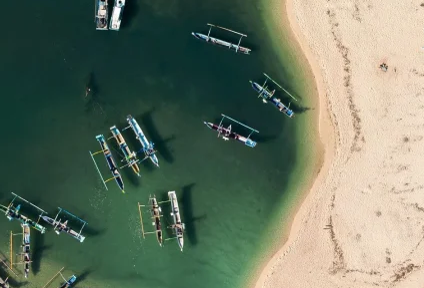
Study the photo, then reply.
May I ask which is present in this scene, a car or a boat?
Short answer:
boat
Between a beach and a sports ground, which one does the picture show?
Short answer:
beach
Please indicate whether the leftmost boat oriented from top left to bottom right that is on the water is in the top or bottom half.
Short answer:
bottom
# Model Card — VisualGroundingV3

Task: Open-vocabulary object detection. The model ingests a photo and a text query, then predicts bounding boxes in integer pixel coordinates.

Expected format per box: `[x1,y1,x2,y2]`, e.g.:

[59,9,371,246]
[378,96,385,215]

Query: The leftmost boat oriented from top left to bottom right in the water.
[0,193,47,235]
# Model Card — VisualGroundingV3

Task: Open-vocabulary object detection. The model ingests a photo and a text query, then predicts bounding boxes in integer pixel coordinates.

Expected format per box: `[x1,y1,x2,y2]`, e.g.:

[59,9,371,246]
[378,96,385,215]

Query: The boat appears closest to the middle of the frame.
[204,114,259,148]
